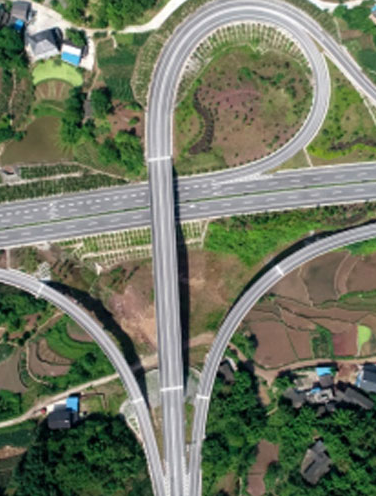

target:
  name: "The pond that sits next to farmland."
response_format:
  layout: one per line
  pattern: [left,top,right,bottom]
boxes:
[1,115,71,165]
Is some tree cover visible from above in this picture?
Yes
